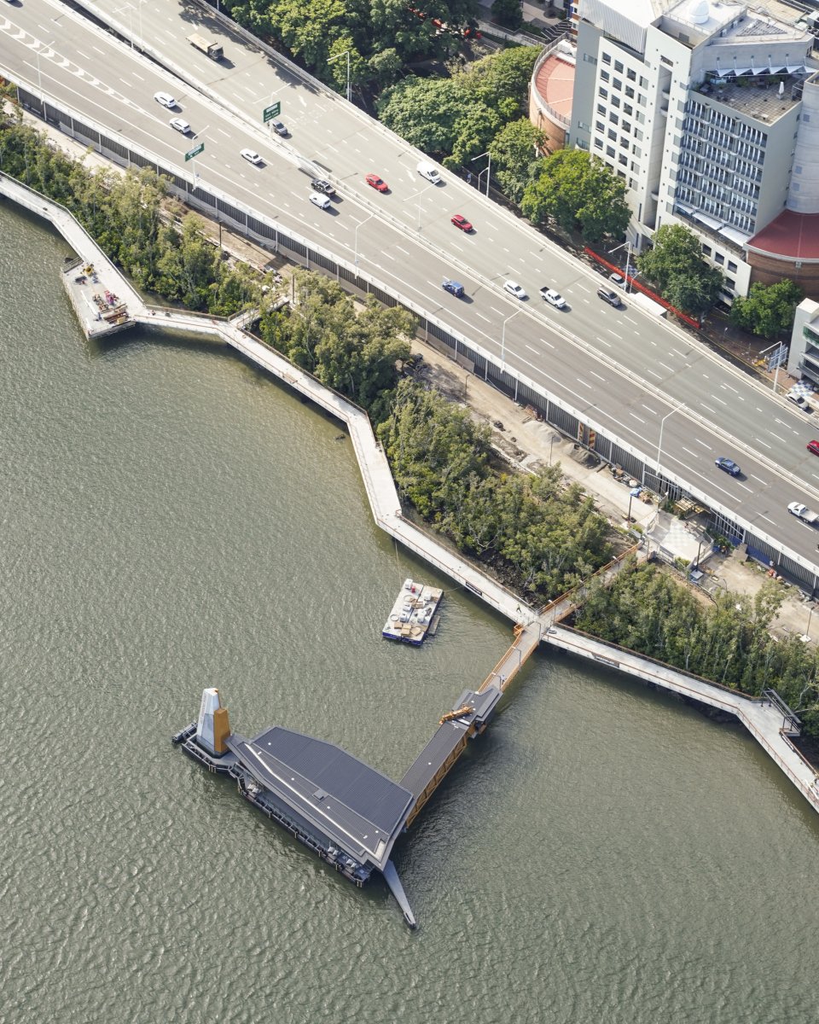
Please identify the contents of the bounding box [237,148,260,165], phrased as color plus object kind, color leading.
white car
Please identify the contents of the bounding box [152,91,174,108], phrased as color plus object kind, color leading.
white car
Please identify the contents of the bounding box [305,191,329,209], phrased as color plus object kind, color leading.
white vehicle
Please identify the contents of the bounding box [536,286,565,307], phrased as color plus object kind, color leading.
white truck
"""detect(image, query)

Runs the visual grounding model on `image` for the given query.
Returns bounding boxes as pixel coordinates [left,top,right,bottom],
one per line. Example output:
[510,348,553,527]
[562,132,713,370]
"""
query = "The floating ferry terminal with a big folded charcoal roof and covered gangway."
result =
[175,685,502,896]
